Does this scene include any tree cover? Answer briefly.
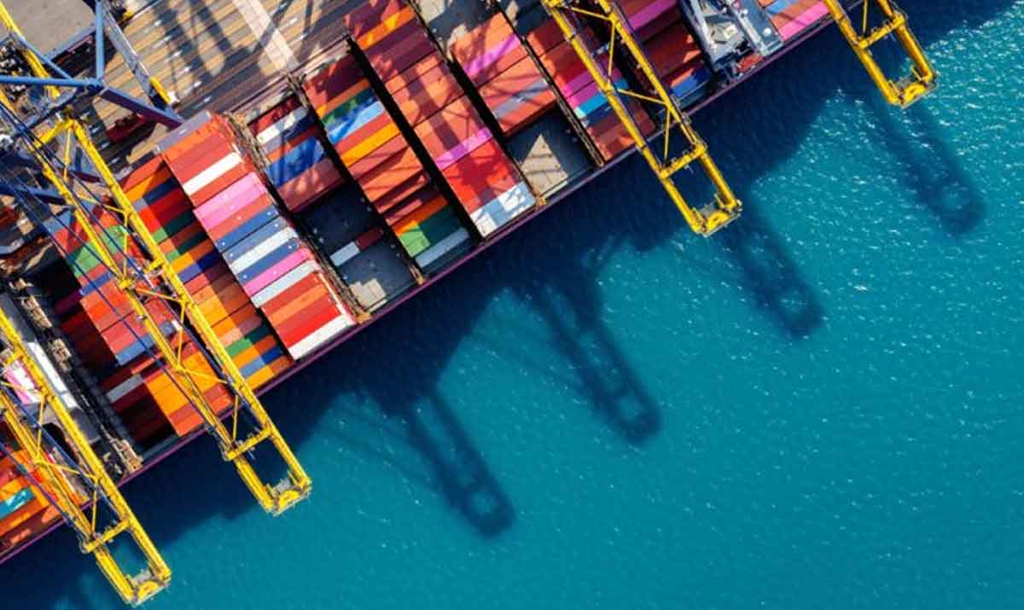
No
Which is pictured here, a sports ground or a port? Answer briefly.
port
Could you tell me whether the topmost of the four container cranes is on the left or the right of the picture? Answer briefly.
right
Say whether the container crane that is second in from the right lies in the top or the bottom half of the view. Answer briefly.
top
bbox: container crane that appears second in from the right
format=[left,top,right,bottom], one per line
[543,0,744,236]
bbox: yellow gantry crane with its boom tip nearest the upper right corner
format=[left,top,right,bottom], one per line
[805,0,935,114]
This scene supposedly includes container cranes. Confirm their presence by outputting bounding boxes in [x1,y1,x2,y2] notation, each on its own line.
[0,0,312,519]
[805,0,935,114]
[0,111,179,608]
[543,0,744,236]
